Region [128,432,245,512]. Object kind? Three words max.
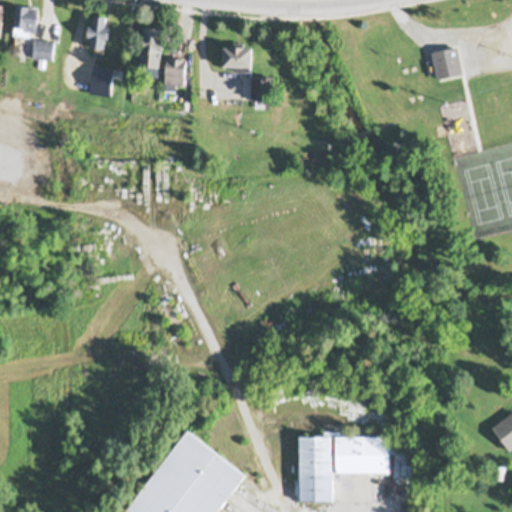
building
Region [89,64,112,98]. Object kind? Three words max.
house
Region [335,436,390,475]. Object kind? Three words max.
building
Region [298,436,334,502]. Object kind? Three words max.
shed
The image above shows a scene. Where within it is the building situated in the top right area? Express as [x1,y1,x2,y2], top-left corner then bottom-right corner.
[433,48,463,82]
